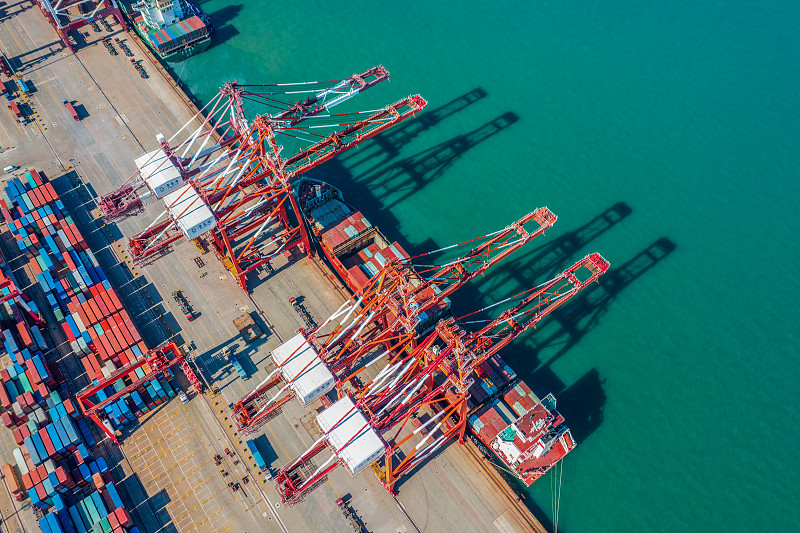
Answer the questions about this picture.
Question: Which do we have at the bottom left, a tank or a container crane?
container crane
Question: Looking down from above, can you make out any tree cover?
No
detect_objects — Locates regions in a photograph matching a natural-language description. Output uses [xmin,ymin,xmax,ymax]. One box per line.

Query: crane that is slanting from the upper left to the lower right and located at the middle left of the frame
[0,284,55,342]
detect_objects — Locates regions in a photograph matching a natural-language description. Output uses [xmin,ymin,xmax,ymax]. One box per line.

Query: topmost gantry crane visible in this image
[43,0,132,58]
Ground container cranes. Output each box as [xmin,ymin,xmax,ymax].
[221,211,560,449]
[43,0,132,58]
[264,257,613,522]
[0,284,55,342]
[76,339,205,449]
[95,67,395,263]
[121,98,430,303]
